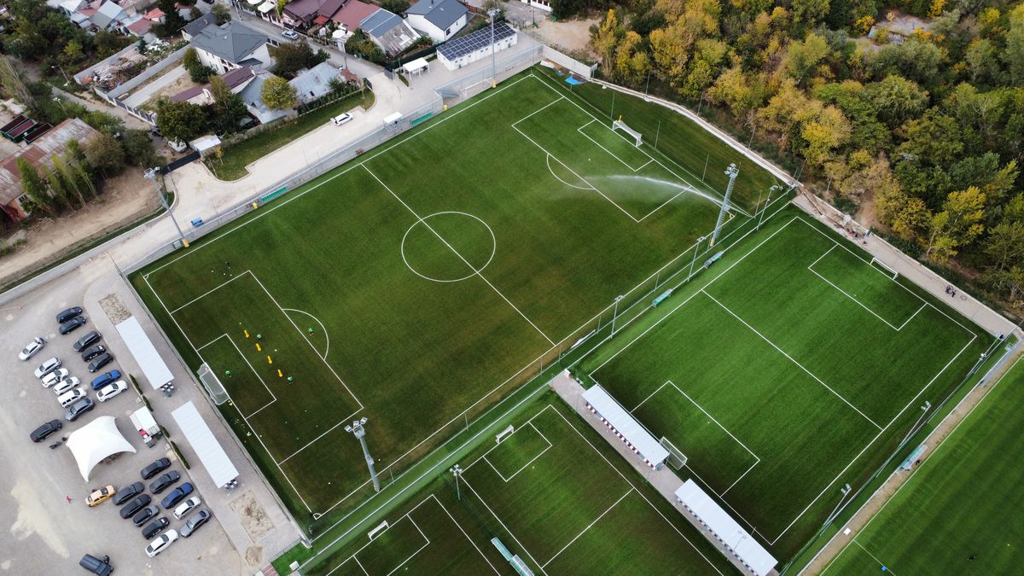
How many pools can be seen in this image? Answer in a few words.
none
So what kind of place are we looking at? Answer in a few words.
sports ground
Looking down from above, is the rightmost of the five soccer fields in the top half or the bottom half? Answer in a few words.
bottom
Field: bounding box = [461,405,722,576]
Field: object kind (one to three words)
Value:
soccer field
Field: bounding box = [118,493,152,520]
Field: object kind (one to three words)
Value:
car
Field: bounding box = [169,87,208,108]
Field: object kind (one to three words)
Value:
shed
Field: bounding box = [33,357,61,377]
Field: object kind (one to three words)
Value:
car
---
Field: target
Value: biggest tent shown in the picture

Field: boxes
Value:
[66,417,137,483]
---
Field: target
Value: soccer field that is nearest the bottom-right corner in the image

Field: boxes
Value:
[821,353,1024,576]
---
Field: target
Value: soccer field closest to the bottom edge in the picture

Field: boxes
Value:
[327,494,500,576]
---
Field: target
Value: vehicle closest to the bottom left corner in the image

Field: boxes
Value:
[76,553,113,576]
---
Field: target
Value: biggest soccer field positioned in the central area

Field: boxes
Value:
[144,74,734,519]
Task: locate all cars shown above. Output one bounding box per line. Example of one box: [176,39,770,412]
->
[64,399,95,421]
[33,357,61,377]
[139,457,172,481]
[57,389,88,408]
[96,382,128,402]
[57,317,86,334]
[72,331,102,352]
[87,353,114,372]
[179,510,211,538]
[55,307,81,323]
[80,344,107,362]
[52,377,81,395]
[170,496,203,522]
[40,369,68,388]
[118,493,152,520]
[147,470,181,495]
[332,114,354,126]
[83,486,116,508]
[18,337,47,360]
[160,483,194,509]
[139,516,173,543]
[130,504,162,528]
[111,480,145,507]
[91,372,119,390]
[144,529,179,558]
[30,421,63,443]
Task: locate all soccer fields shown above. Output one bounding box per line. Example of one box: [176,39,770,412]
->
[590,216,976,545]
[327,494,500,576]
[821,353,1024,576]
[461,405,722,576]
[144,74,734,519]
